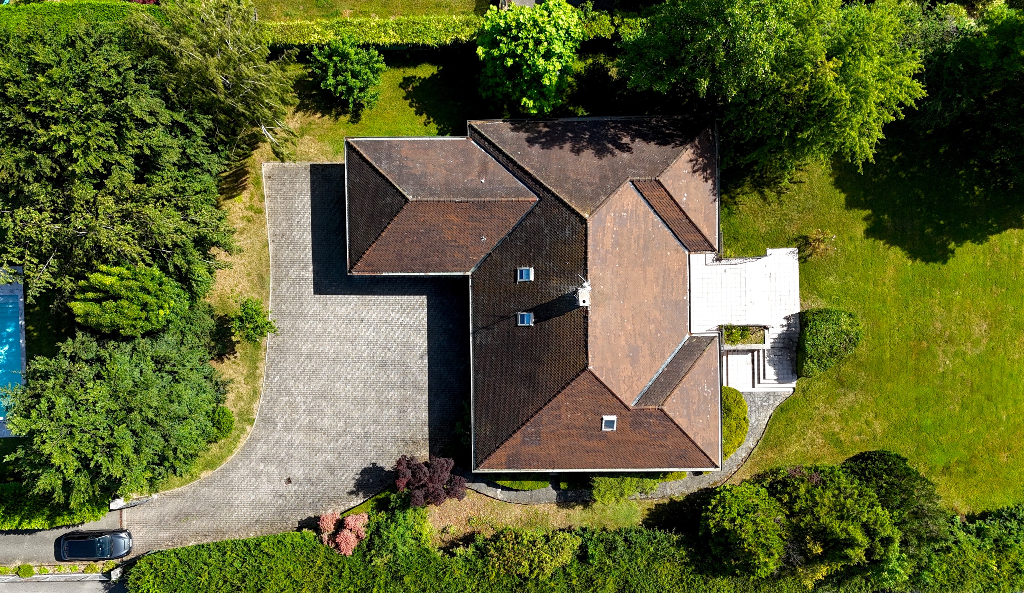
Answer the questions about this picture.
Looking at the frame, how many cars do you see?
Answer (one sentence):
The count comes to 1 car.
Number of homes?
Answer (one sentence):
In total, there is 1 home in the scene.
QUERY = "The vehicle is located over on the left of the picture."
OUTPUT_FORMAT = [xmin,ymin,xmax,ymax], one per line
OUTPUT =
[54,526,131,566]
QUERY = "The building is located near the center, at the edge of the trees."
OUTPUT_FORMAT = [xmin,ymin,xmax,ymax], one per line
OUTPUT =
[342,115,725,478]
